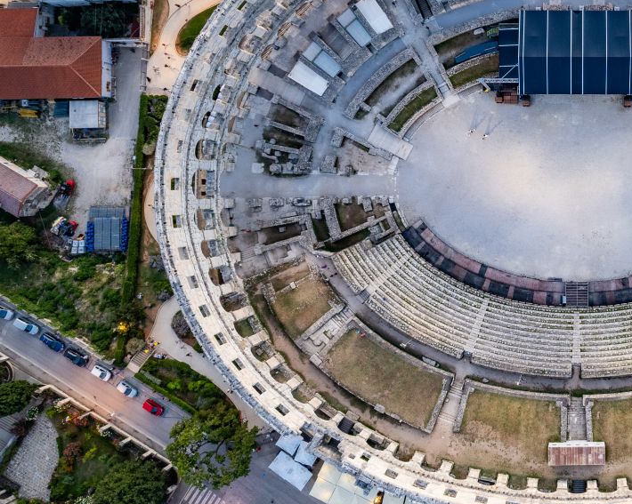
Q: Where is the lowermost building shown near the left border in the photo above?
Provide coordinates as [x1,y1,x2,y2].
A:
[0,155,54,217]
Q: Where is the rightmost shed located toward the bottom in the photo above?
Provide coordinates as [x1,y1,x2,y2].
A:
[549,440,605,466]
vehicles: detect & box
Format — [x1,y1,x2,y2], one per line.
[89,362,114,381]
[47,216,77,240]
[38,331,66,351]
[115,379,140,398]
[10,314,41,336]
[49,180,73,208]
[0,304,17,322]
[141,397,166,416]
[63,345,90,365]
